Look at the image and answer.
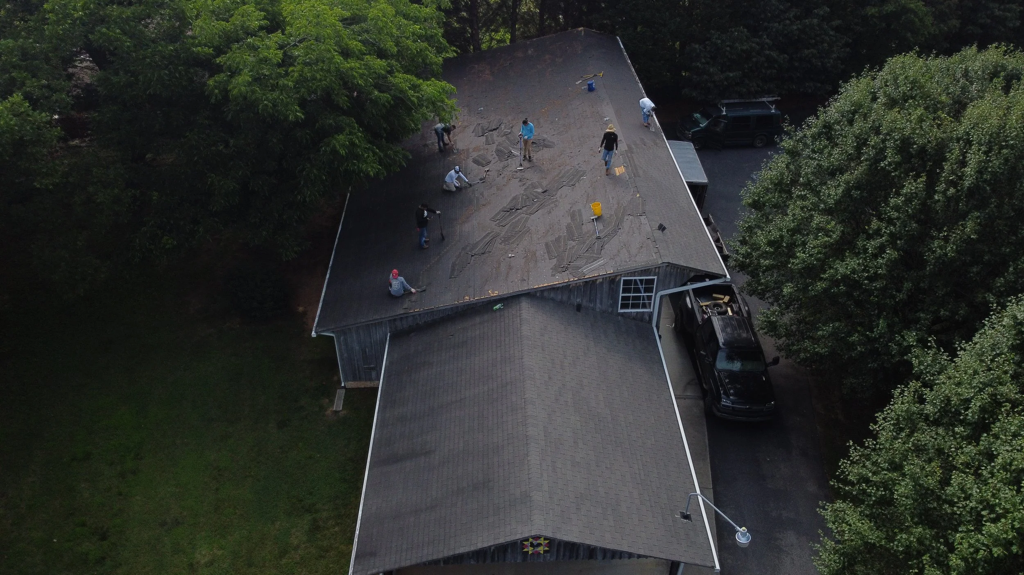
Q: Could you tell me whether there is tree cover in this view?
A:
Yes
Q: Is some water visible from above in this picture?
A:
No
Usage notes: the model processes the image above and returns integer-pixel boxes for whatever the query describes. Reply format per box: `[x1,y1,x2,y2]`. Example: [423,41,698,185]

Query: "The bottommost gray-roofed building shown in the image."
[348,294,724,575]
